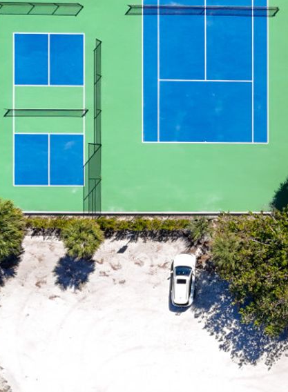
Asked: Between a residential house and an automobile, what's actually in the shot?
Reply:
automobile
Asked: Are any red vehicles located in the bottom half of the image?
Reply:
No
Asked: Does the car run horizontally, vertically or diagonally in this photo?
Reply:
vertically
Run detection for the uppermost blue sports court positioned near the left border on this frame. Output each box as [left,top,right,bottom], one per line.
[14,33,84,187]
